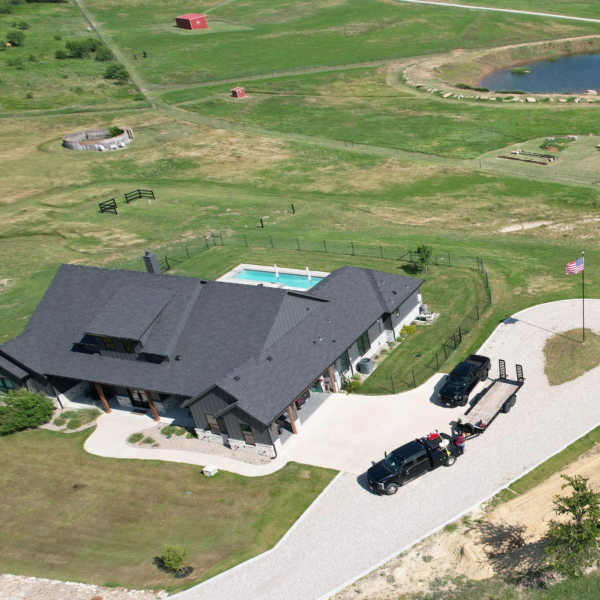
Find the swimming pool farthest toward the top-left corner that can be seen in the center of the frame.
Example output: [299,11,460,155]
[217,263,329,296]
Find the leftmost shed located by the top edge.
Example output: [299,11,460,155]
[174,12,204,29]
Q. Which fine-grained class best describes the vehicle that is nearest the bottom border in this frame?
truck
